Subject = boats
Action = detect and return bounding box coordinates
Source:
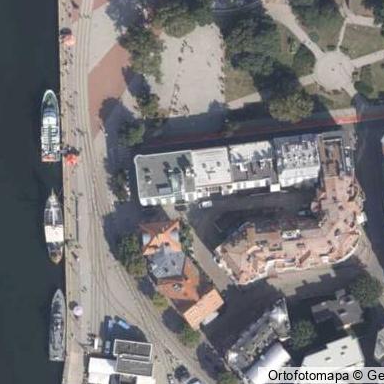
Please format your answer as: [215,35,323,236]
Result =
[41,90,64,163]
[45,184,67,265]
[50,288,70,361]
